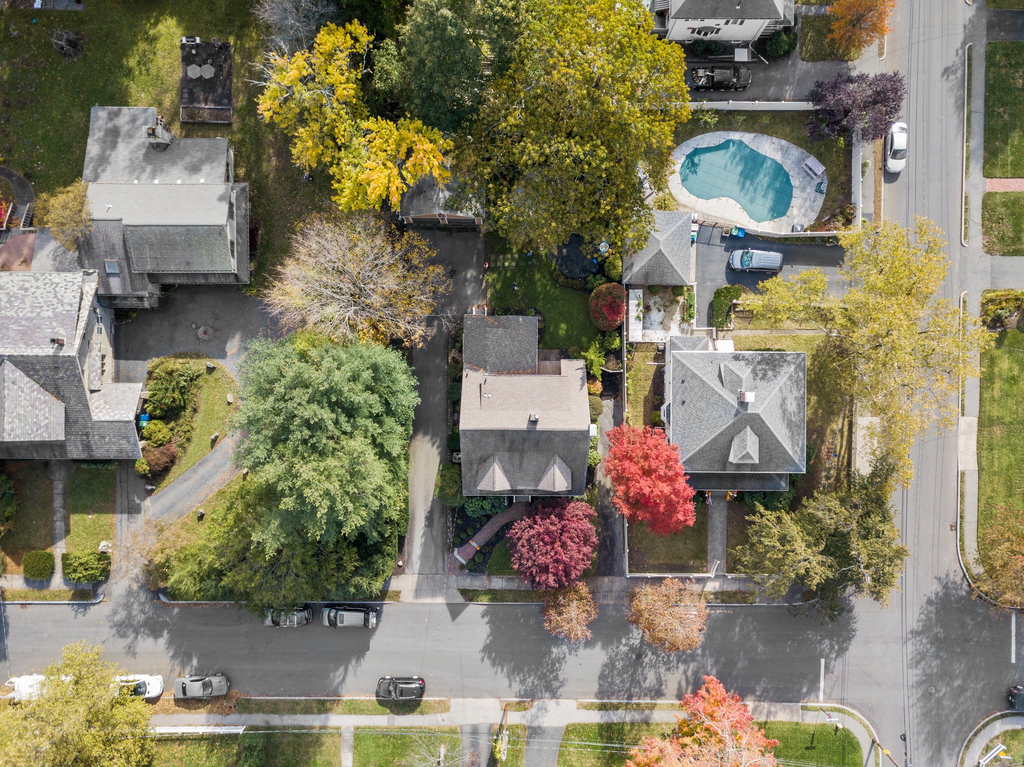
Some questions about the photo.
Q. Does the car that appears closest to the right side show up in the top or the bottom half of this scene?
bottom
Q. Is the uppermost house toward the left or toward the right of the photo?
right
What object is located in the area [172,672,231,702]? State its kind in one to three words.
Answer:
car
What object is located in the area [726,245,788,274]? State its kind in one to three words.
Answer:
vehicle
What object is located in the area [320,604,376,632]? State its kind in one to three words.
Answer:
car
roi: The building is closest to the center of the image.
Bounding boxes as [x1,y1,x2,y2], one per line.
[460,306,598,504]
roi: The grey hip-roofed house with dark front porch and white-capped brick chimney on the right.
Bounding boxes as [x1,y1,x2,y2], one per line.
[646,335,808,495]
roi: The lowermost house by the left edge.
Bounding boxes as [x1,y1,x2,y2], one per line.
[0,272,151,460]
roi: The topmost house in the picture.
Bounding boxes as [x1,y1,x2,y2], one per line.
[664,0,794,64]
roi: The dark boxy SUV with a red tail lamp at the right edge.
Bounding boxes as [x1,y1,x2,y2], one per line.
[1003,686,1024,714]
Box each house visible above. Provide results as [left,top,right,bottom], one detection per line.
[460,306,598,504]
[646,335,808,495]
[0,272,151,460]
[664,0,794,64]
[80,106,257,309]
